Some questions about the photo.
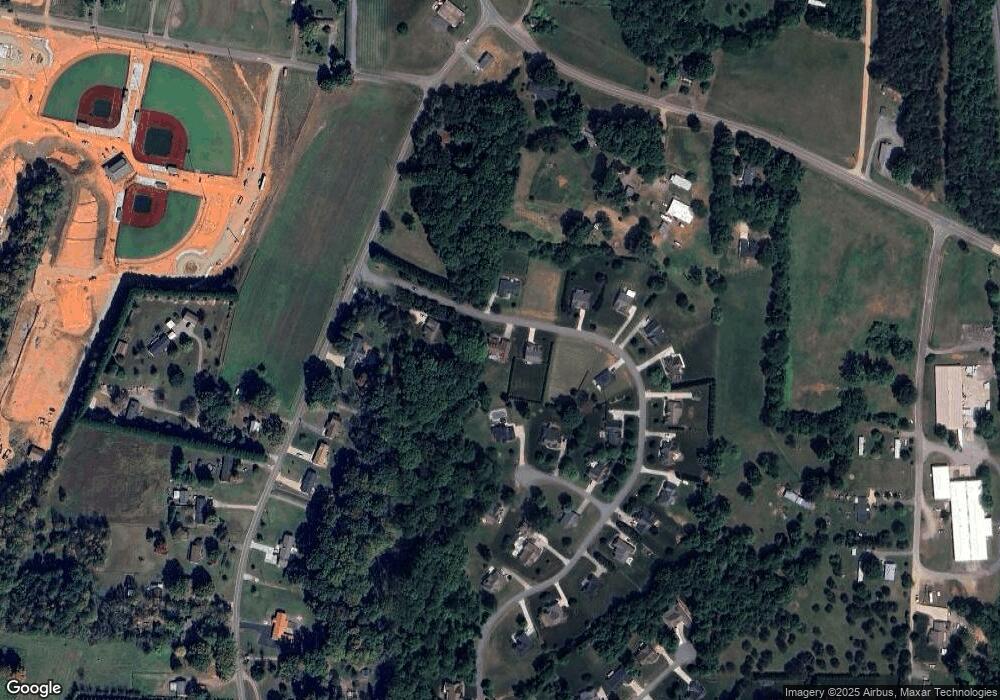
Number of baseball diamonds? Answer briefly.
3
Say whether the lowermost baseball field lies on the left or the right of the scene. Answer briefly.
left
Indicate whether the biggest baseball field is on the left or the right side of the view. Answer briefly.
left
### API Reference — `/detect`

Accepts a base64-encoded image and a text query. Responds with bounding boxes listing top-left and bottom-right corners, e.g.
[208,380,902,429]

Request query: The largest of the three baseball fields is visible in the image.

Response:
[134,57,241,177]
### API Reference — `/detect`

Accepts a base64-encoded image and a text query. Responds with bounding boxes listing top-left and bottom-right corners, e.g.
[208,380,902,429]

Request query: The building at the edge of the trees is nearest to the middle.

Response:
[488,340,509,361]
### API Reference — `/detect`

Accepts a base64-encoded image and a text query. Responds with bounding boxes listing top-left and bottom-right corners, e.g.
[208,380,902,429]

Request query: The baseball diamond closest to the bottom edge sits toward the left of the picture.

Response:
[116,185,203,265]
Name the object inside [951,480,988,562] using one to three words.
building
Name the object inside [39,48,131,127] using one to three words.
baseball field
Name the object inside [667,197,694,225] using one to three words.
barn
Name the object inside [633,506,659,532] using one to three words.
house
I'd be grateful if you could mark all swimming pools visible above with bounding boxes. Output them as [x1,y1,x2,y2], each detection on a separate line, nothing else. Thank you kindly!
[489,407,508,420]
